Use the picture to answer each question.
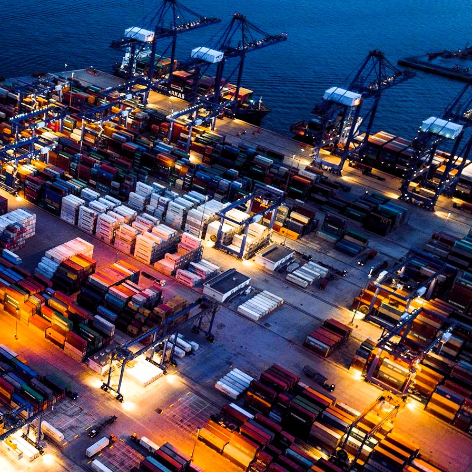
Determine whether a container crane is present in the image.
Yes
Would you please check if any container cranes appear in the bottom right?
Yes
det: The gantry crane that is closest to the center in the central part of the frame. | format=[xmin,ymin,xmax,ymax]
[212,192,296,260]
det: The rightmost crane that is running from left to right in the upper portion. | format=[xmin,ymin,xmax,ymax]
[169,103,238,143]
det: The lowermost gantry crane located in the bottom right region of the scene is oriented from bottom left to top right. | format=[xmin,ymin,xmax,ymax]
[328,387,415,472]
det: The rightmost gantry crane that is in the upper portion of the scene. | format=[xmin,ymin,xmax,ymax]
[394,86,472,212]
